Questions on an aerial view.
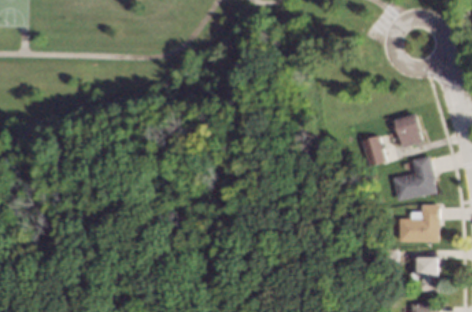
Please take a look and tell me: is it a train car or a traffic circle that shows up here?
traffic circle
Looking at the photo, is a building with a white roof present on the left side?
No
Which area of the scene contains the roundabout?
top right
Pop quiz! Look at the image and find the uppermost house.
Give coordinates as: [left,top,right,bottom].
[394,114,422,146]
